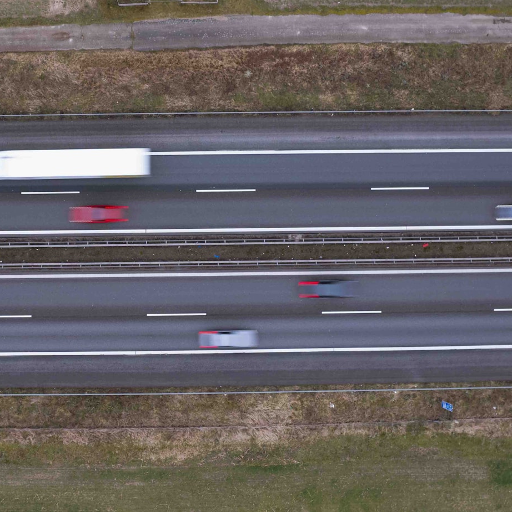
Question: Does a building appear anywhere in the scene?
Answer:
No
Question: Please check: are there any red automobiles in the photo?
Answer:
Yes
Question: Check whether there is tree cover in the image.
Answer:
No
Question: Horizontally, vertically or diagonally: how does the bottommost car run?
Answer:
horizontally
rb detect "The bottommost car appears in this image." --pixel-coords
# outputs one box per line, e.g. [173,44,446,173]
[204,329,254,349]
